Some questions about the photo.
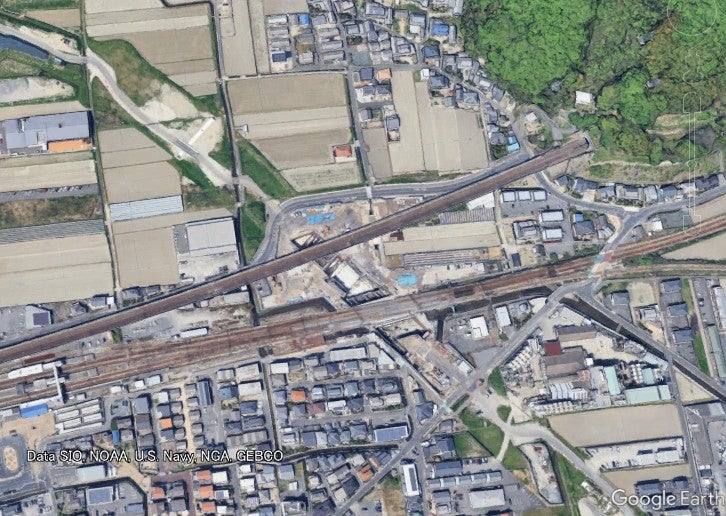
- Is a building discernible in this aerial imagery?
Yes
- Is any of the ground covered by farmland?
Yes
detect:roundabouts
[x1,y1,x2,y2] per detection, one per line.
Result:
[0,427,30,485]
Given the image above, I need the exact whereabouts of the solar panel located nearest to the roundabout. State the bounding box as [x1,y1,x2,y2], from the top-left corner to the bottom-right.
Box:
[89,488,112,503]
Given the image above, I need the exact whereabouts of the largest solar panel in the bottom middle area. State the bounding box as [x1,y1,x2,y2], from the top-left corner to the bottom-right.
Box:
[376,427,405,440]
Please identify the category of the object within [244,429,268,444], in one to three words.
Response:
house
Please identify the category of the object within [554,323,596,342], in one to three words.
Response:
building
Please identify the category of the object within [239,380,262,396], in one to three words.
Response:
house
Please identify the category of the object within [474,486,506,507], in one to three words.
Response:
building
